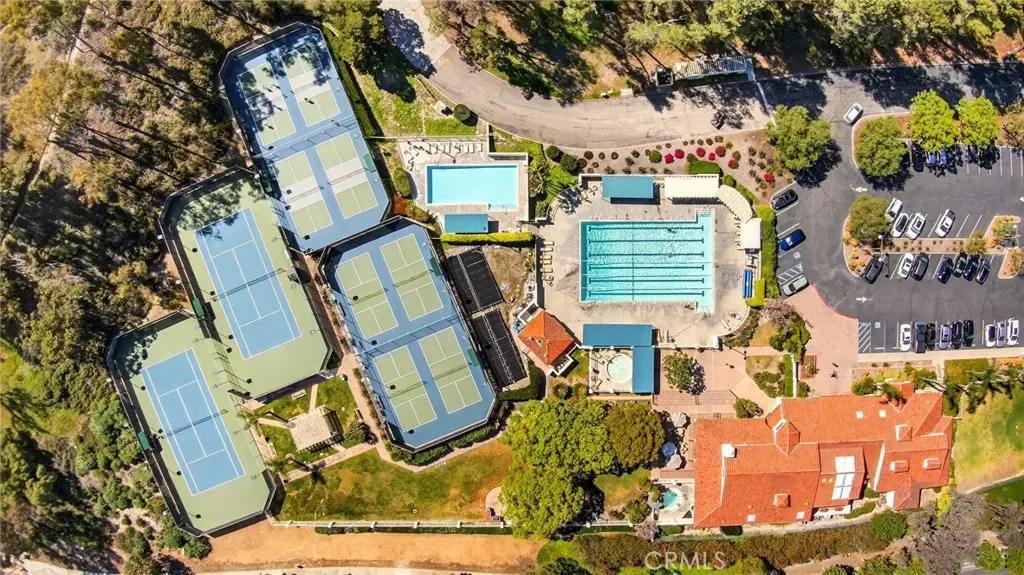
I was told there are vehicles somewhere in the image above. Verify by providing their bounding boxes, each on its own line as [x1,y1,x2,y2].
[862,255,885,284]
[925,324,938,350]
[909,252,930,281]
[895,252,915,279]
[937,324,952,350]
[1006,318,1022,345]
[950,322,965,349]
[905,212,926,240]
[951,251,970,276]
[711,113,723,127]
[973,258,992,285]
[890,211,910,238]
[778,229,806,249]
[995,321,1008,348]
[781,276,809,296]
[884,196,905,223]
[983,324,997,347]
[898,324,912,351]
[910,146,925,173]
[840,101,861,127]
[911,320,927,353]
[935,256,953,283]
[962,319,976,347]
[771,189,798,209]
[961,252,981,280]
[934,209,956,237]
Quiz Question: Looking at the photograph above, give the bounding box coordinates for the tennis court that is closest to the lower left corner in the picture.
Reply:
[115,317,273,532]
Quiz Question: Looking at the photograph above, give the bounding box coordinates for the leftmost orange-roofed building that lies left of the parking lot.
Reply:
[517,309,574,365]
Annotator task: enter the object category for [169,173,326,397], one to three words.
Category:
tennis court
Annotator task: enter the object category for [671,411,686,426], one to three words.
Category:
umbrella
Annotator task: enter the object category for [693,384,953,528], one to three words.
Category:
building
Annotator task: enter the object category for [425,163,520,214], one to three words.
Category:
swimming pool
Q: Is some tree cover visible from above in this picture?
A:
Yes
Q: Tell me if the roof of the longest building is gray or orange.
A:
orange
